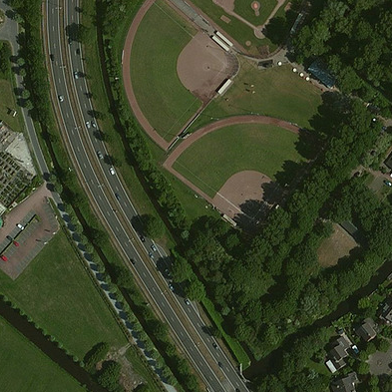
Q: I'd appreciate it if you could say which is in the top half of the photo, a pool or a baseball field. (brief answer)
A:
baseball field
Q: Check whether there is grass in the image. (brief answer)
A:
Yes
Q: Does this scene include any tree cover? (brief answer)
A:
Yes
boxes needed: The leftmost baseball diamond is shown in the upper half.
[123,0,238,150]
